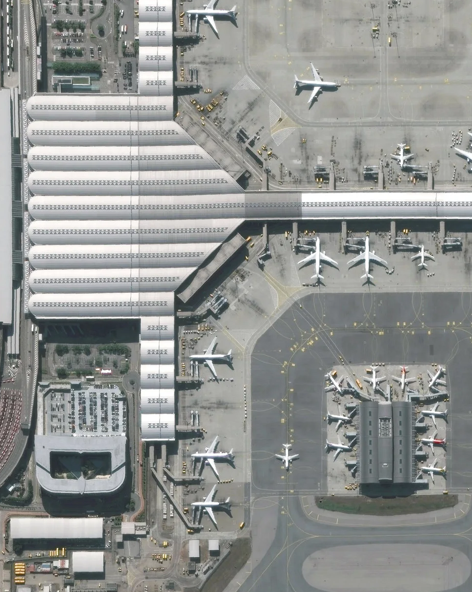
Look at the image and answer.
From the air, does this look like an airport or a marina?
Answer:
airport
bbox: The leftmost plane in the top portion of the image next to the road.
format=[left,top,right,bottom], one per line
[186,0,237,33]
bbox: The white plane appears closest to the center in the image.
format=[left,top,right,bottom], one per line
[190,334,233,376]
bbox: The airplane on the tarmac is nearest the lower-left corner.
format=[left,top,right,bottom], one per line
[191,482,232,523]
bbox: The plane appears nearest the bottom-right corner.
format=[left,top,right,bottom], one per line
[422,460,447,481]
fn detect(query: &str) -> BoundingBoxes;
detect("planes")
[391,143,411,167]
[275,444,299,470]
[292,62,336,103]
[324,371,342,394]
[345,236,387,279]
[186,0,237,33]
[428,366,446,388]
[325,434,353,458]
[192,432,234,475]
[296,238,337,279]
[423,402,448,426]
[413,246,433,267]
[391,365,415,393]
[190,334,233,376]
[422,431,446,452]
[422,460,447,481]
[326,406,351,428]
[191,482,232,523]
[363,366,385,391]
